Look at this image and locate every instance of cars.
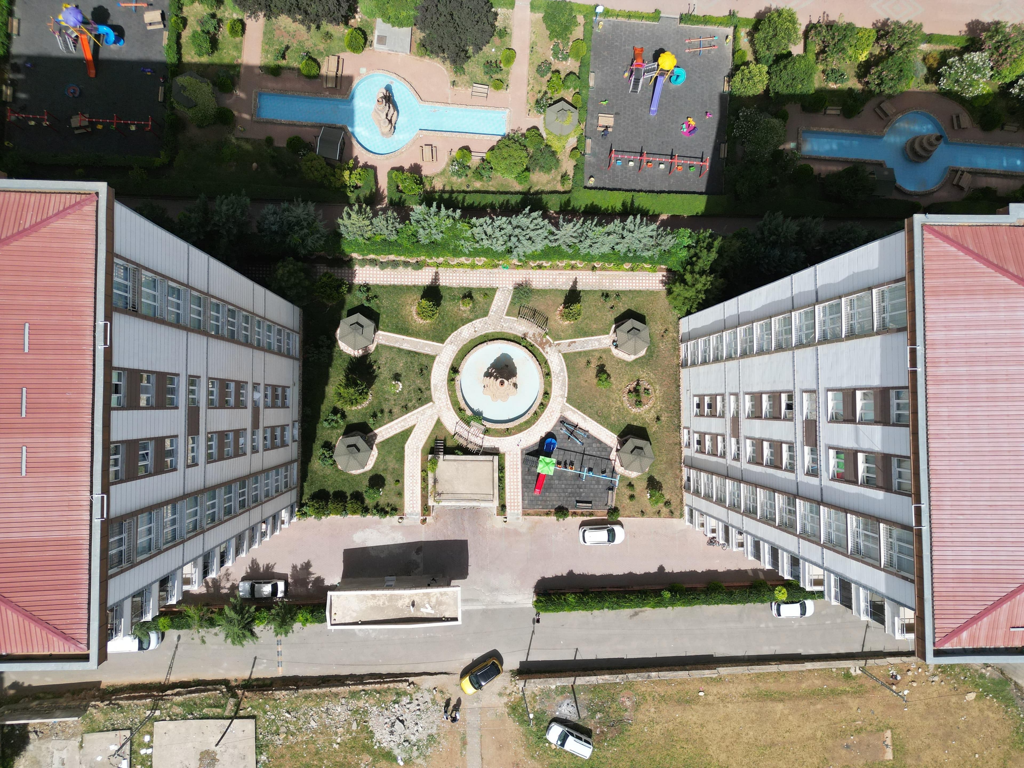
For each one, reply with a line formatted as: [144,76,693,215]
[578,523,624,547]
[770,597,813,620]
[109,629,161,655]
[546,718,594,761]
[460,655,504,697]
[239,578,288,600]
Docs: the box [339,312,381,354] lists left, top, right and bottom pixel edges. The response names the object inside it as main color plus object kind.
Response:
gray gazebo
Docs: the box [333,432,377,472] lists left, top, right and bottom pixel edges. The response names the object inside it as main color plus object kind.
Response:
gray gazebo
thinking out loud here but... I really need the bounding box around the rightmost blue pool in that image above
[800,107,1024,192]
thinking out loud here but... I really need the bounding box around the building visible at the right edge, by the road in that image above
[682,203,1024,664]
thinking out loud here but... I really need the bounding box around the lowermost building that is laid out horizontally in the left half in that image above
[326,574,461,629]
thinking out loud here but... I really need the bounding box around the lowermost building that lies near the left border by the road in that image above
[0,180,299,670]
